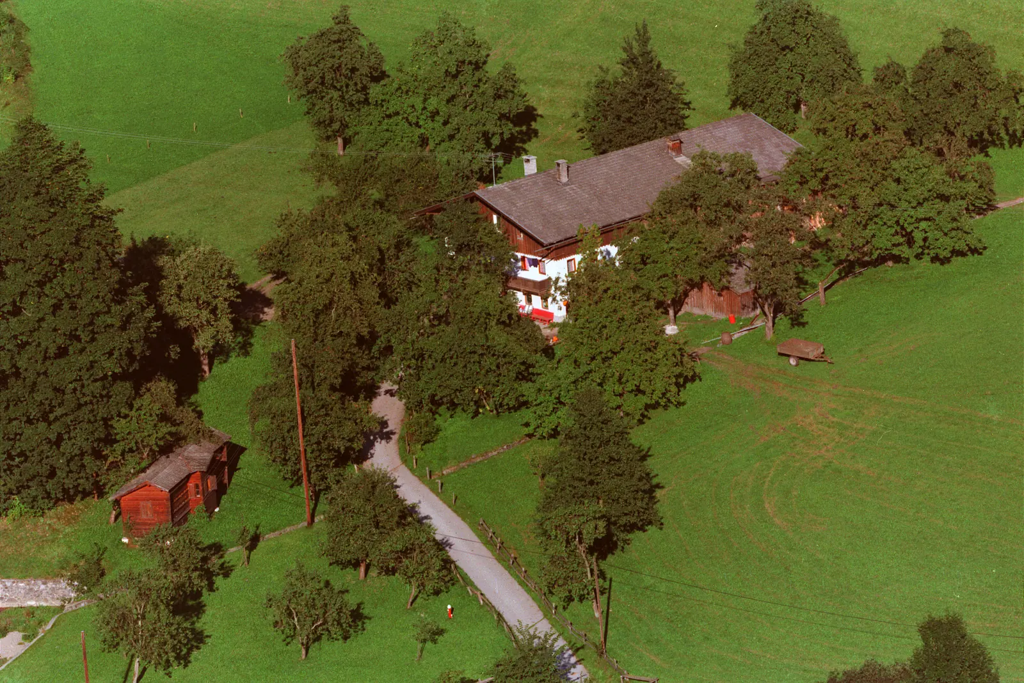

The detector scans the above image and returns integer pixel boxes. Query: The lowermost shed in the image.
[106,430,242,537]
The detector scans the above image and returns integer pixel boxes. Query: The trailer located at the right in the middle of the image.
[776,340,835,366]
